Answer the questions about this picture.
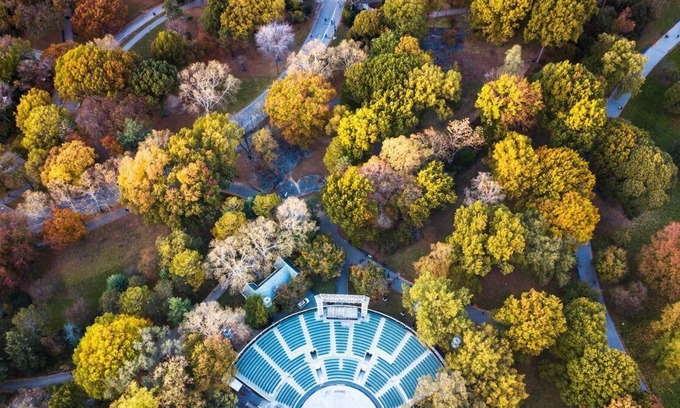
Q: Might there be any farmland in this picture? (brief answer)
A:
No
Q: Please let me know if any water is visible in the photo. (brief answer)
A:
No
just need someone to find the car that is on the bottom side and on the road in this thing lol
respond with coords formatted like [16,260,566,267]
[296,296,311,309]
